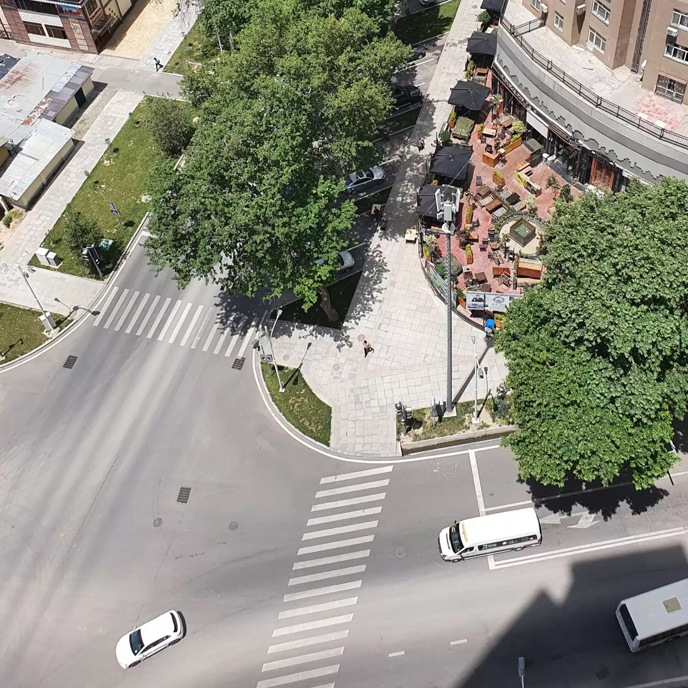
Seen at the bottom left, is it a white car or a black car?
white car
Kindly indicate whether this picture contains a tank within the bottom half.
No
